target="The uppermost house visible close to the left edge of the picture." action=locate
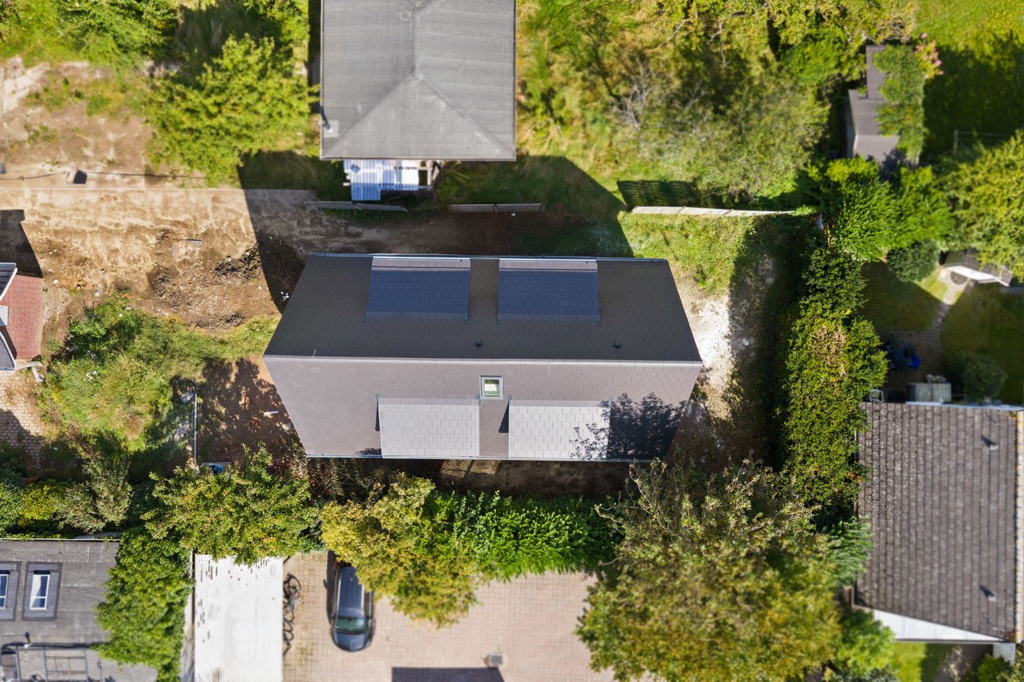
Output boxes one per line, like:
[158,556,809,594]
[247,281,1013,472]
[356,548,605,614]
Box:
[0,262,47,377]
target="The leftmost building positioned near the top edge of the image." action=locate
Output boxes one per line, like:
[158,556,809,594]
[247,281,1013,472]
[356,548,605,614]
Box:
[319,0,519,166]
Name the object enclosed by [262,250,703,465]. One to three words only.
house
